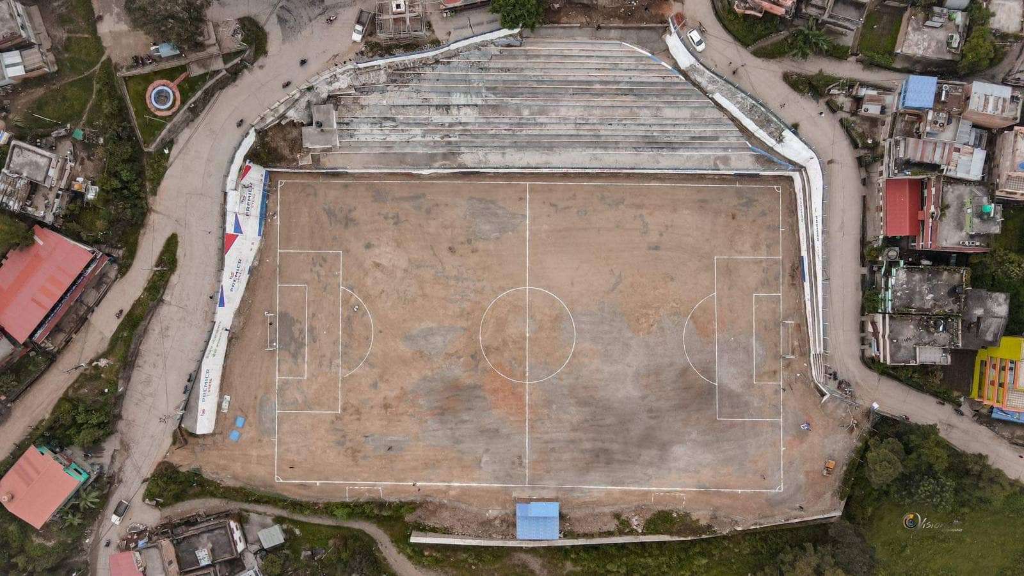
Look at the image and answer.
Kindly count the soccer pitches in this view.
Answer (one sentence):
In total, 1 soccer pitch can be seen.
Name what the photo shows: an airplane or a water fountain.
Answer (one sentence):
I can see a water fountain in this picture.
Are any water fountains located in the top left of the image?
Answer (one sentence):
Yes, a water fountain appears in the top left of the image.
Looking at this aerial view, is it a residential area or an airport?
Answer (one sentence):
What you see here is a residential area.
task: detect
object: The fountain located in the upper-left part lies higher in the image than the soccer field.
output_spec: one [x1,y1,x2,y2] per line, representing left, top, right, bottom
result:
[145,80,181,115]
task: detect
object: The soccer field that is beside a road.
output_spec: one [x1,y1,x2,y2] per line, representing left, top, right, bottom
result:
[168,173,861,539]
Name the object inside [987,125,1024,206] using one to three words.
house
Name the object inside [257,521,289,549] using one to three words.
shed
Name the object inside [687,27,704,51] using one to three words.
car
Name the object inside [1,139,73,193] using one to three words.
house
